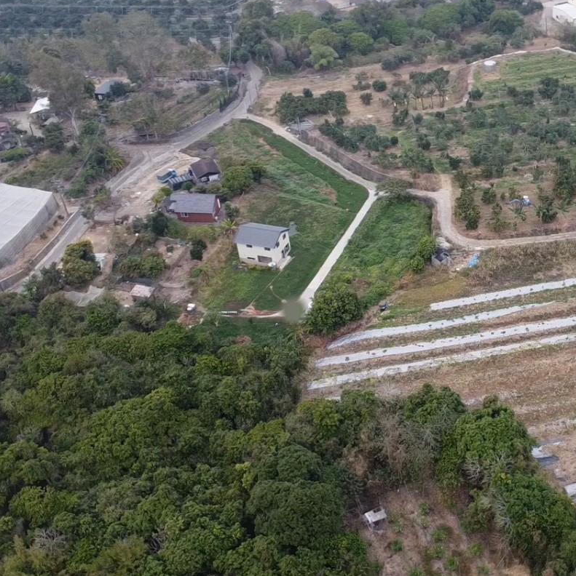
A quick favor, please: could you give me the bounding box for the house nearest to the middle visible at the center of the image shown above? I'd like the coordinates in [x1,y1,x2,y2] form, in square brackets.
[232,224,298,270]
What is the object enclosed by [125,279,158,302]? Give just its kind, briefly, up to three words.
shed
